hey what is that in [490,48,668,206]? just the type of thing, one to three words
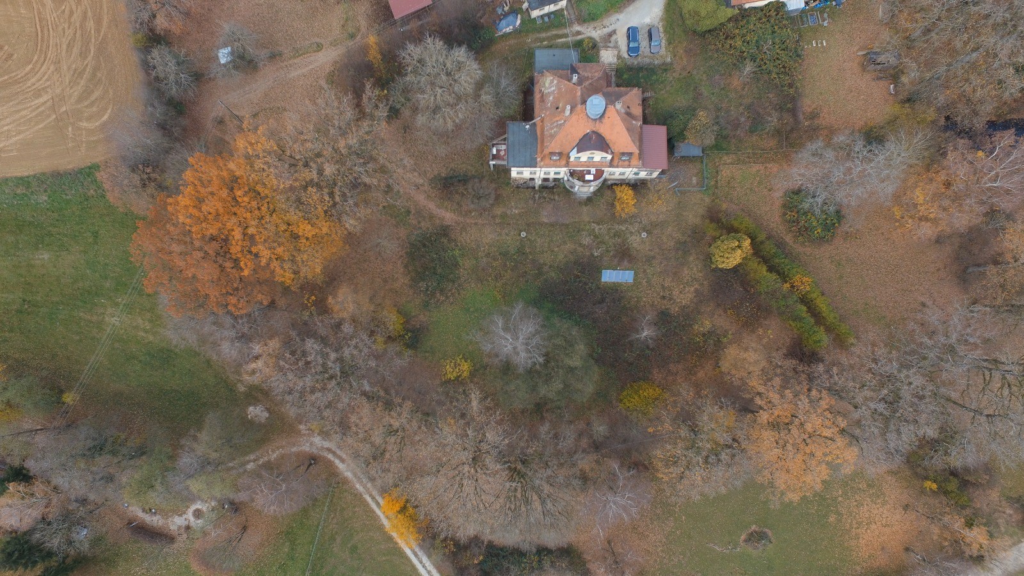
house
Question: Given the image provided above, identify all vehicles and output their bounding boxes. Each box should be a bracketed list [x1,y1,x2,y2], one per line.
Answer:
[648,29,661,54]
[626,29,640,56]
